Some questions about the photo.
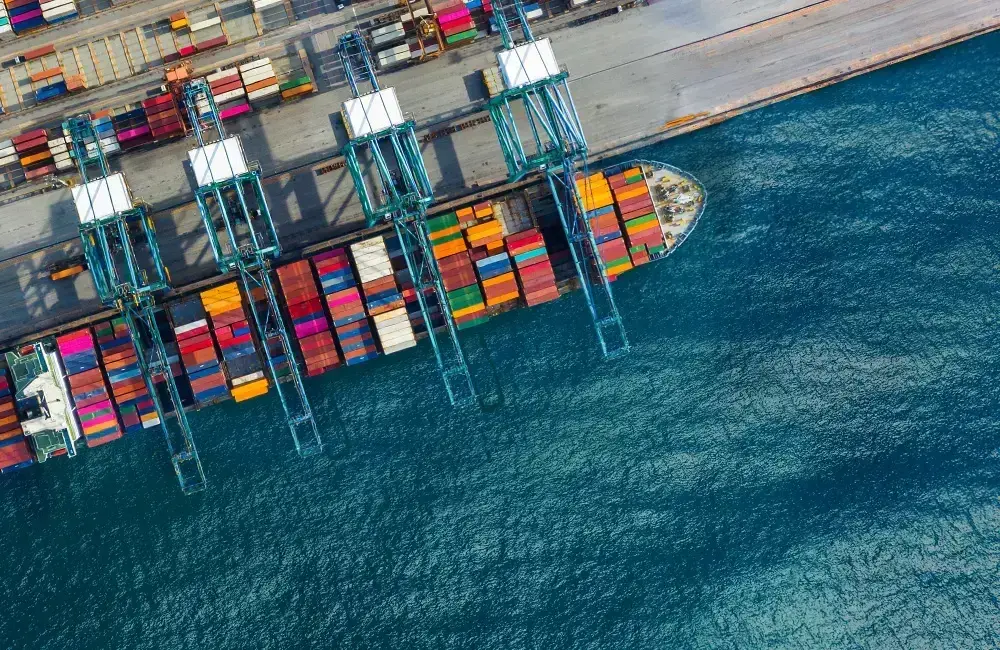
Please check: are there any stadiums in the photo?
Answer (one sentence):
No, the frame has no stadium in it.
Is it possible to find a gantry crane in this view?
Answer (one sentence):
Yes, you can see a gantry crane in this photo.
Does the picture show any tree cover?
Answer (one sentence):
No, the picture contains no tree cover.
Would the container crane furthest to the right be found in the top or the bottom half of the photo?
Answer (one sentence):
The top half of the photo is where the container crane furthest to the right is.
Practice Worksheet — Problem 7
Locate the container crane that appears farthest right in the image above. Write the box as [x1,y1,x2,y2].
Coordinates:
[469,0,632,364]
